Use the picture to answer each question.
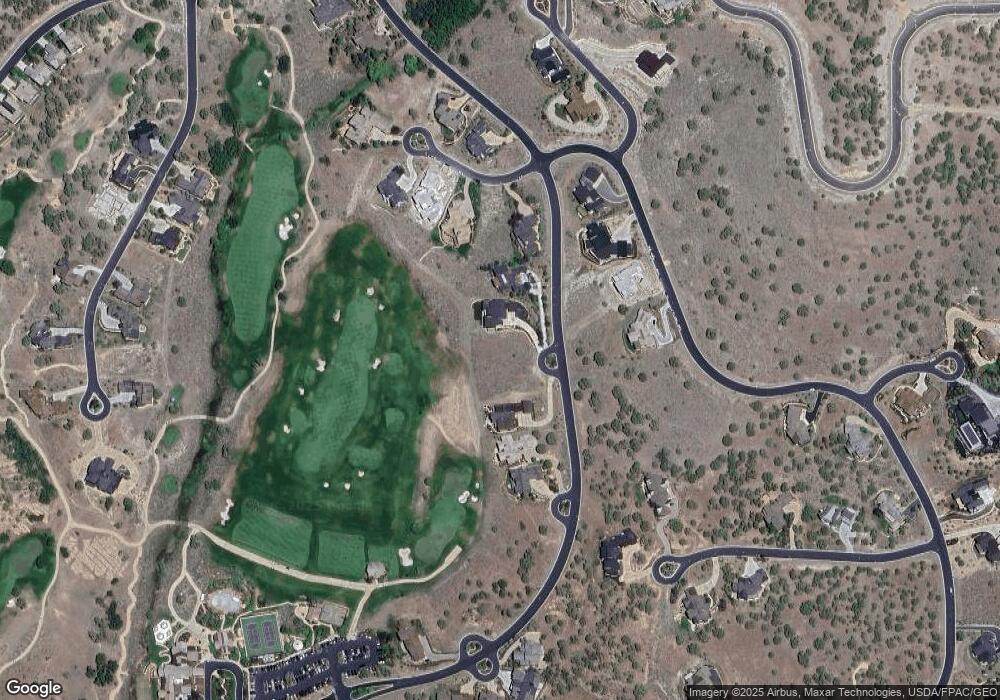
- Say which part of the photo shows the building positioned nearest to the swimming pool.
bottom left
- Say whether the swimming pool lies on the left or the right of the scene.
left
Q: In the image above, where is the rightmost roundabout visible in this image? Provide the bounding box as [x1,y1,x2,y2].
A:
[928,350,966,381]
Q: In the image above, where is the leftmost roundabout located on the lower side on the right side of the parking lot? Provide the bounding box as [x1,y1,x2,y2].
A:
[457,634,503,680]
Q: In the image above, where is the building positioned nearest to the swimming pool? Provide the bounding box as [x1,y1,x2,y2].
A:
[214,632,233,651]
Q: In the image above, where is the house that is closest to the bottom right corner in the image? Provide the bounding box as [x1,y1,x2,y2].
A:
[966,630,1000,666]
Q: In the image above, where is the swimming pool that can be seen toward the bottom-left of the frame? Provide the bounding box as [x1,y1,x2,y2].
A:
[200,589,244,616]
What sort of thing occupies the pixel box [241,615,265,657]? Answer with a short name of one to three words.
tennis court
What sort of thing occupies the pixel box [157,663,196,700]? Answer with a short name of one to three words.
building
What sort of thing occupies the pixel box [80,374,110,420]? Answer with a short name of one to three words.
roundabout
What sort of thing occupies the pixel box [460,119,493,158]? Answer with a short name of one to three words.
house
